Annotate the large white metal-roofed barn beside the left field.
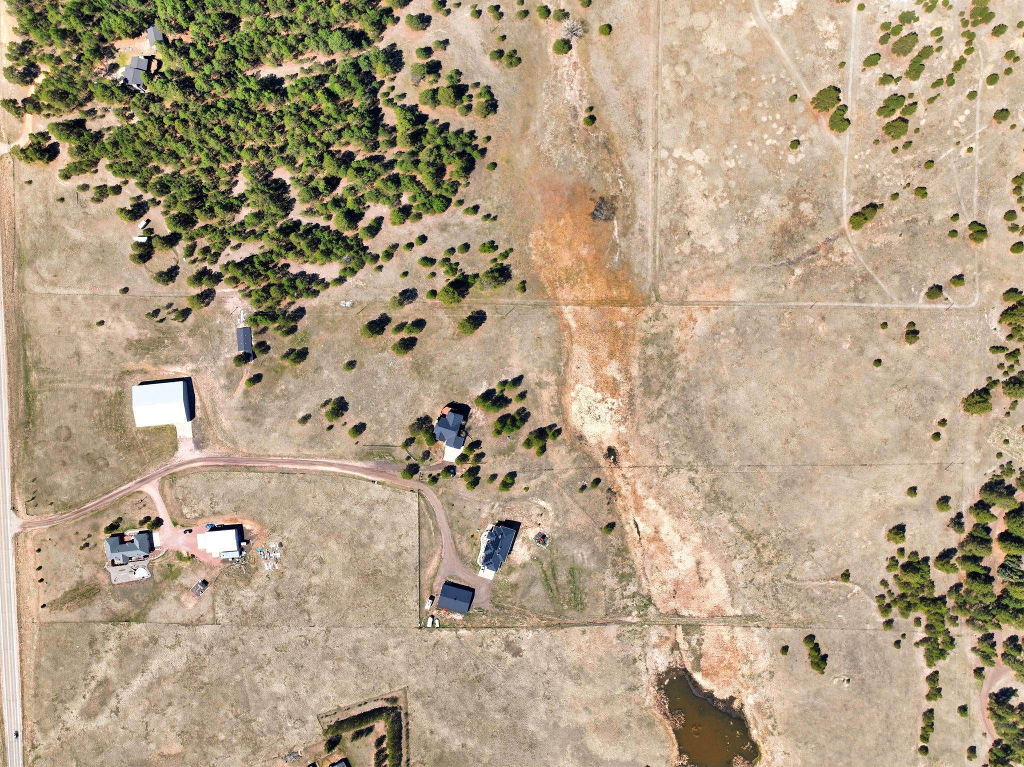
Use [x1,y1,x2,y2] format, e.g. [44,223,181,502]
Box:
[132,381,191,427]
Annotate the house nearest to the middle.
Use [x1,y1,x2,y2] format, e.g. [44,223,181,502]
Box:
[434,407,465,450]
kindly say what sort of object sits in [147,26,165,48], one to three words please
building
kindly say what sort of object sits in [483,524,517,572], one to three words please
house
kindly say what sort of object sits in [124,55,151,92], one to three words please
house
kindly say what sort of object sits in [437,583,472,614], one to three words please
building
